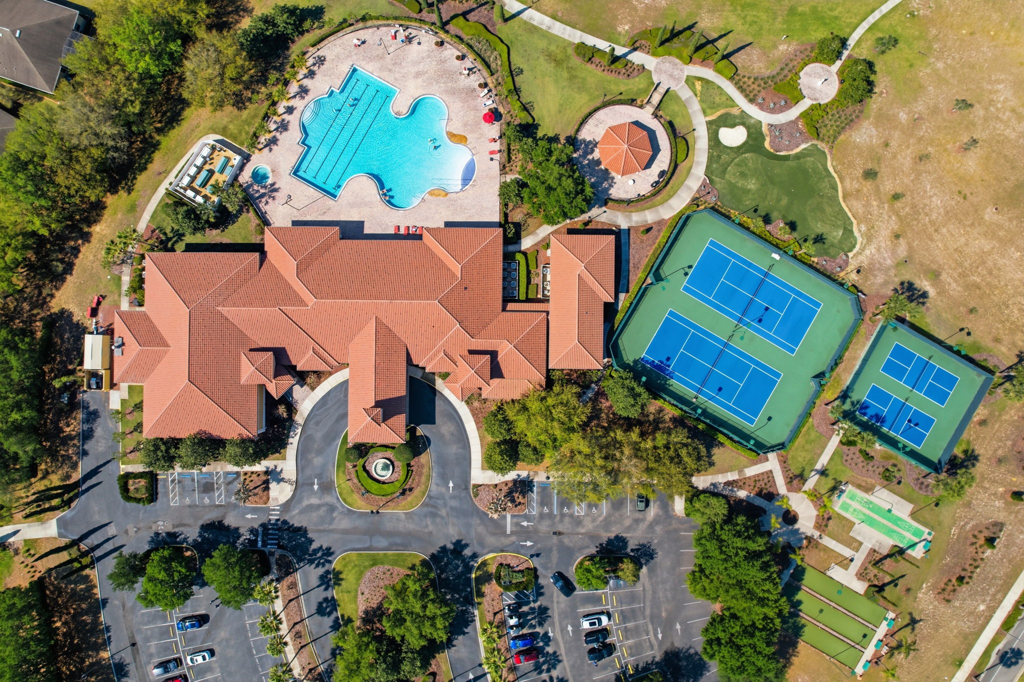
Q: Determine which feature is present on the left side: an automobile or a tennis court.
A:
automobile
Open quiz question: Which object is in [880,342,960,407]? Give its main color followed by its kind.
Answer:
blue sports court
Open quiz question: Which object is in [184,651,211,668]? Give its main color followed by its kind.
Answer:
white car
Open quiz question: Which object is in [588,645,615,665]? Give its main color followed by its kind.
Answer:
black car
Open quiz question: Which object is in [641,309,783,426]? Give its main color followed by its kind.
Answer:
blue tennis court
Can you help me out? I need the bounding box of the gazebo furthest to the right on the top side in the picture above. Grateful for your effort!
[597,121,653,179]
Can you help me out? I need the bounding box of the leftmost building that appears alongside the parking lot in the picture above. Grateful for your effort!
[85,335,111,393]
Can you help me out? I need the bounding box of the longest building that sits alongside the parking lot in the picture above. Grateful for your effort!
[112,226,549,444]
